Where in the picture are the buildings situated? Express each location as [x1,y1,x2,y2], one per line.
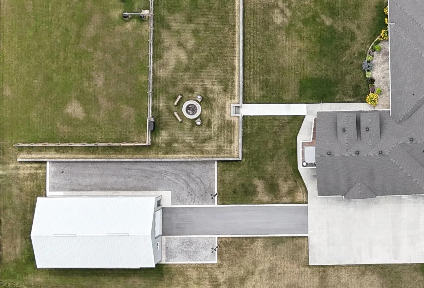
[33,194,164,270]
[315,0,424,200]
